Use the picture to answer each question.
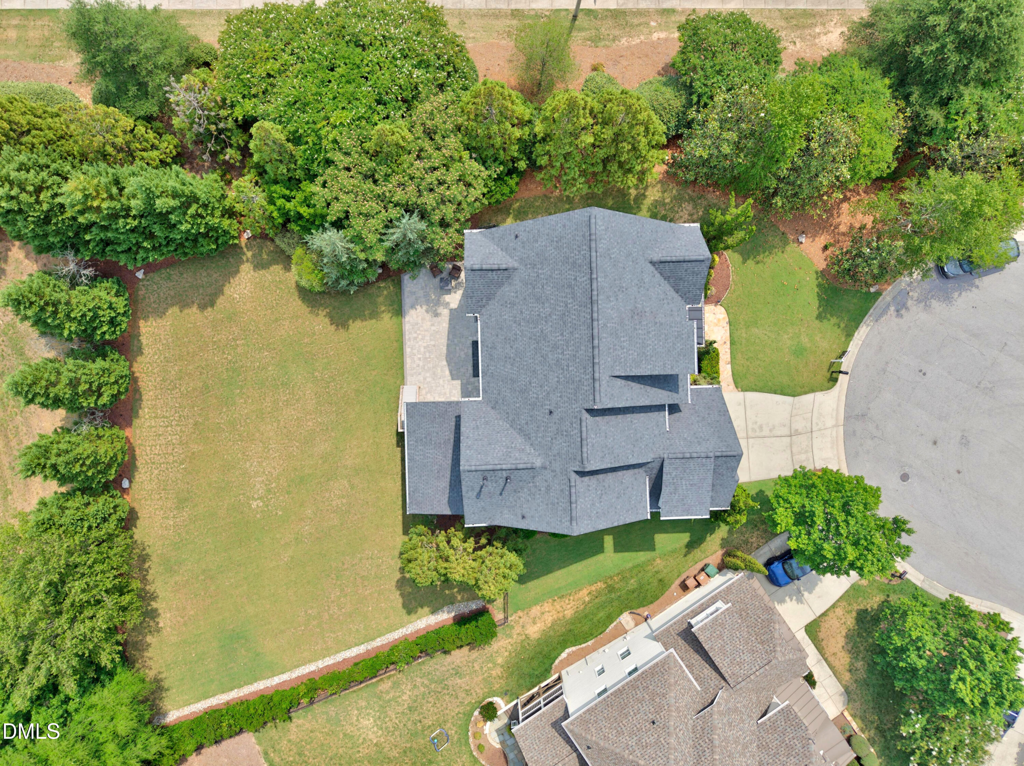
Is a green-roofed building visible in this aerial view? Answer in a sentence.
No, the picture doesn't show any green-roofed building.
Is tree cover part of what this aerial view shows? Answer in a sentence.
Yes, there's tree cover in this view.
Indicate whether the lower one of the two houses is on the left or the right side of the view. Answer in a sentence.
You can find the lower one of the two houses on the right side of the picture.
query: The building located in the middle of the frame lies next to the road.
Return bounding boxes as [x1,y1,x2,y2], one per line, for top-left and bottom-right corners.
[403,207,742,535]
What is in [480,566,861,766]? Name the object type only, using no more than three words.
house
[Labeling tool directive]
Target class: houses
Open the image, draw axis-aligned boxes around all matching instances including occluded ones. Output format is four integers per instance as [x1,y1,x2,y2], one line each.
[480,566,861,766]
[403,207,742,535]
